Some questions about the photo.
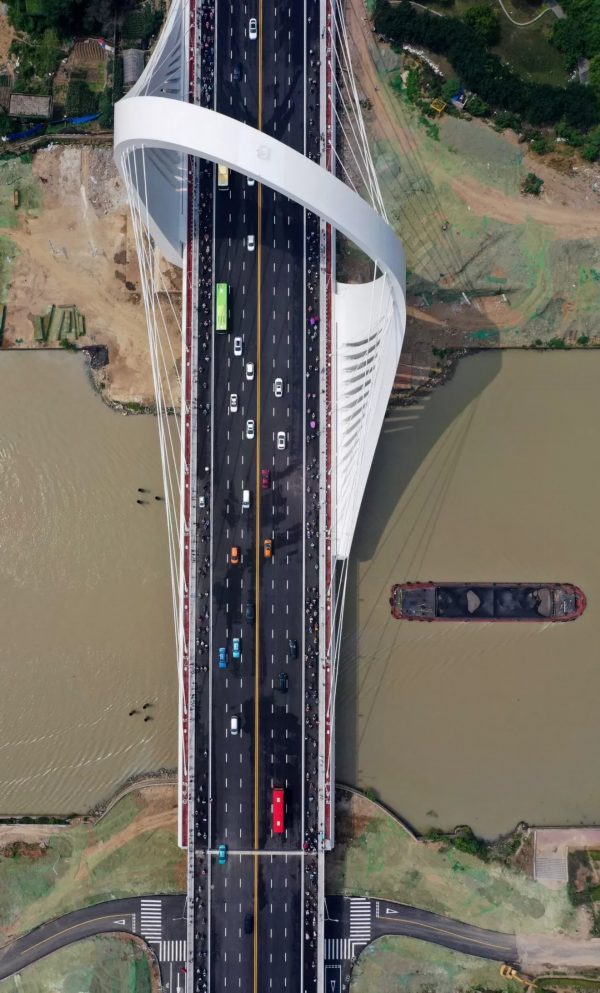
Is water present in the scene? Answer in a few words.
Yes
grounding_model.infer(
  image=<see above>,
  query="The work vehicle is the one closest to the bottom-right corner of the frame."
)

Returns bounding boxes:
[499,960,541,989]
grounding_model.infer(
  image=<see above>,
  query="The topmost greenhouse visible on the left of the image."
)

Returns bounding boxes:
[124,48,143,83]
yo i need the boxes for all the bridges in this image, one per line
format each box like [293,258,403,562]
[114,0,406,993]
